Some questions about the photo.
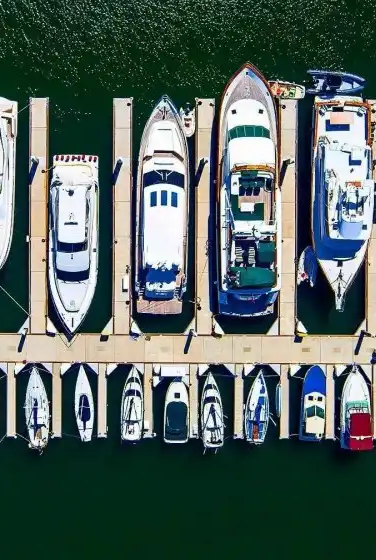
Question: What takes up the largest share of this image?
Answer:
water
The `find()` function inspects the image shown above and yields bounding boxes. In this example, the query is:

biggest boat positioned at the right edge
[298,94,375,313]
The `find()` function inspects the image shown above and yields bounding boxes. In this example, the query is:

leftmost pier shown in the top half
[16,94,61,333]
